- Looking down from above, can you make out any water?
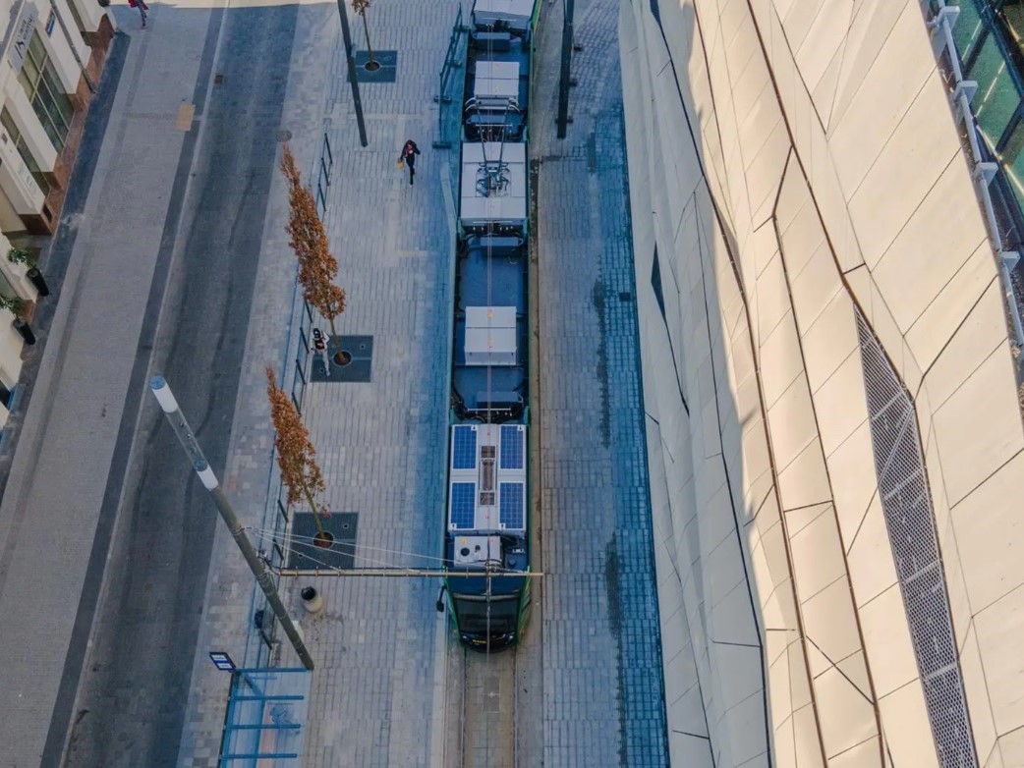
No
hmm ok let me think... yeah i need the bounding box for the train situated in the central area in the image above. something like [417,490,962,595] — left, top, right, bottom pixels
[436,0,541,653]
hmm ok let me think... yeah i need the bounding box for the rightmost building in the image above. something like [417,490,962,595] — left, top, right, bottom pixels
[618,0,1024,768]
